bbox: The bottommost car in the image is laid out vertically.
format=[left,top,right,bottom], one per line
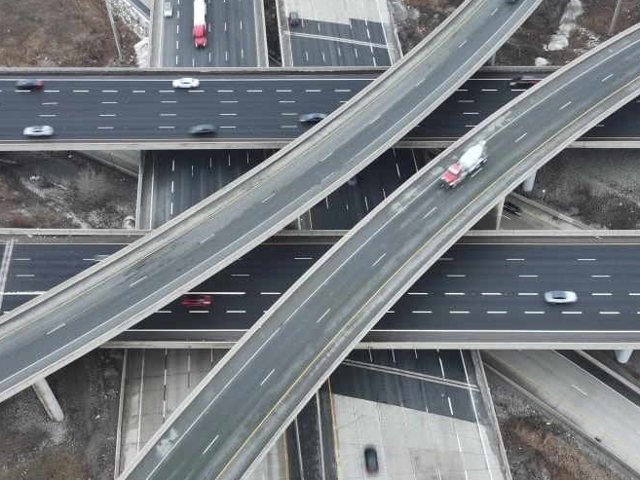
[363,444,380,477]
